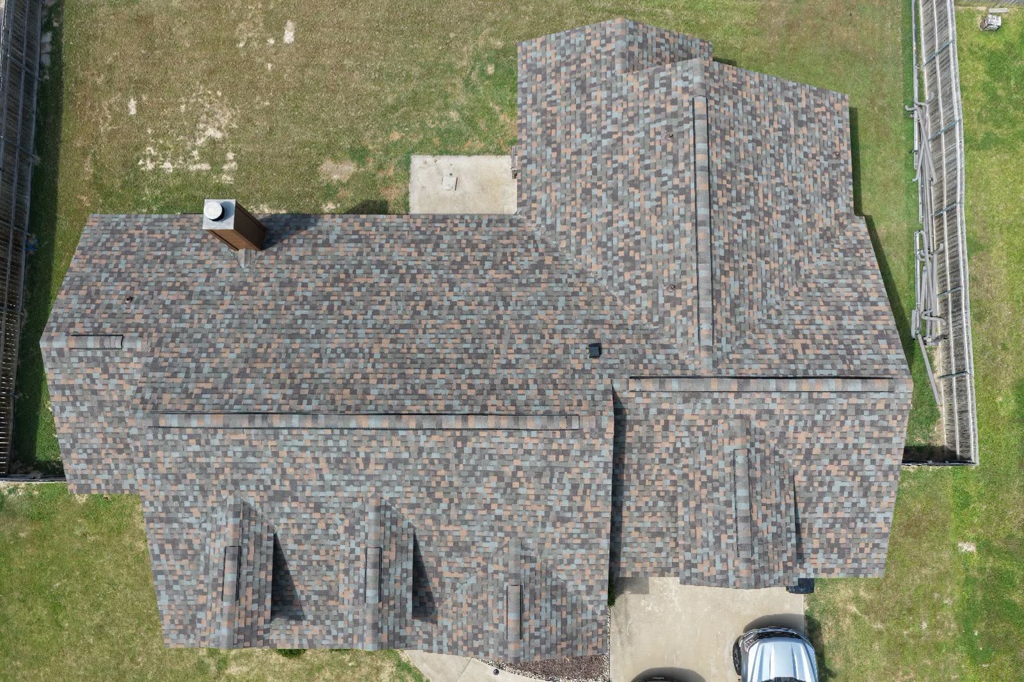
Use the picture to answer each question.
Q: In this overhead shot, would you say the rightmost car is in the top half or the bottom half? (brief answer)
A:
bottom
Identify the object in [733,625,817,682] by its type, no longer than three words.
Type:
car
